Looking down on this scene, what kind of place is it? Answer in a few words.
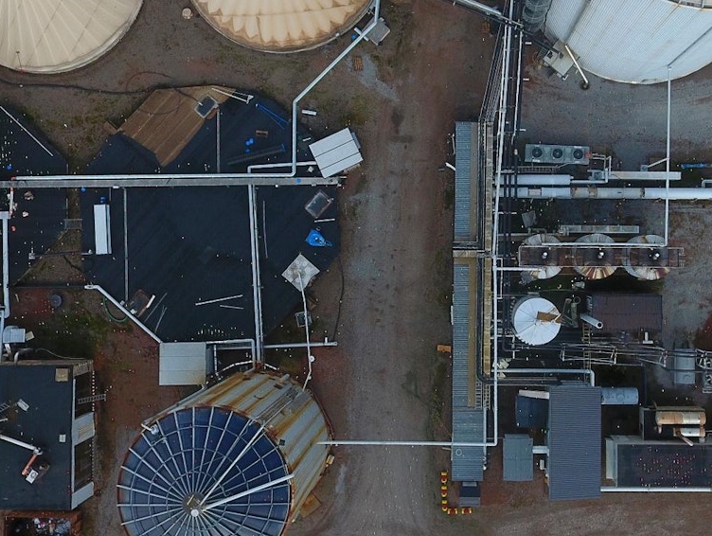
industrial area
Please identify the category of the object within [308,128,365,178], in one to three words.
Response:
shed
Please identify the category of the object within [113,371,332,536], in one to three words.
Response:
storage tank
